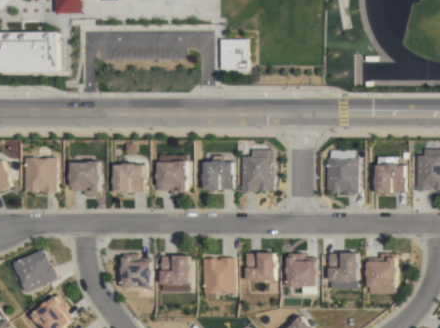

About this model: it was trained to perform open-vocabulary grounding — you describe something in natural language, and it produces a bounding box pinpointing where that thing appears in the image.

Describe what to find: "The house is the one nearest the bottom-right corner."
[366,254,398,294]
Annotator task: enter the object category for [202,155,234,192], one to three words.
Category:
house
